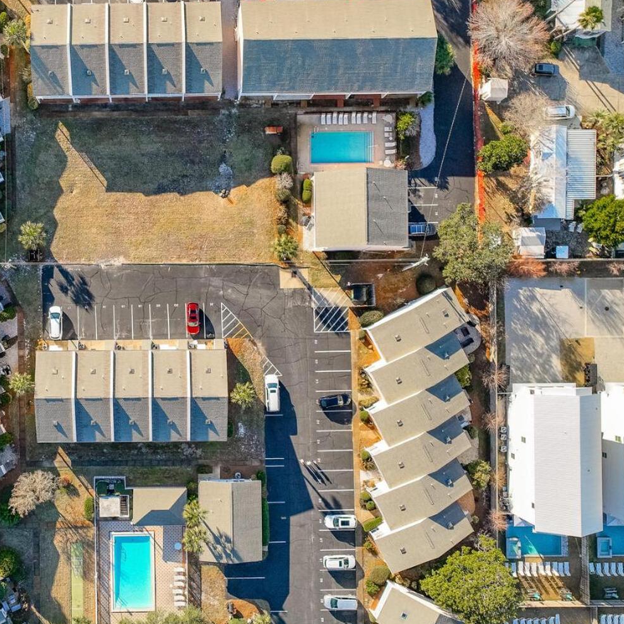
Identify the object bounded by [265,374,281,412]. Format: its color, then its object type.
white car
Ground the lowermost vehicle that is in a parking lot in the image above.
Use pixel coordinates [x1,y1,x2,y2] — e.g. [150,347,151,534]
[323,594,358,612]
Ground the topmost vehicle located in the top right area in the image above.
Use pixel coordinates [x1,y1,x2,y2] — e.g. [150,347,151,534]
[531,61,559,77]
